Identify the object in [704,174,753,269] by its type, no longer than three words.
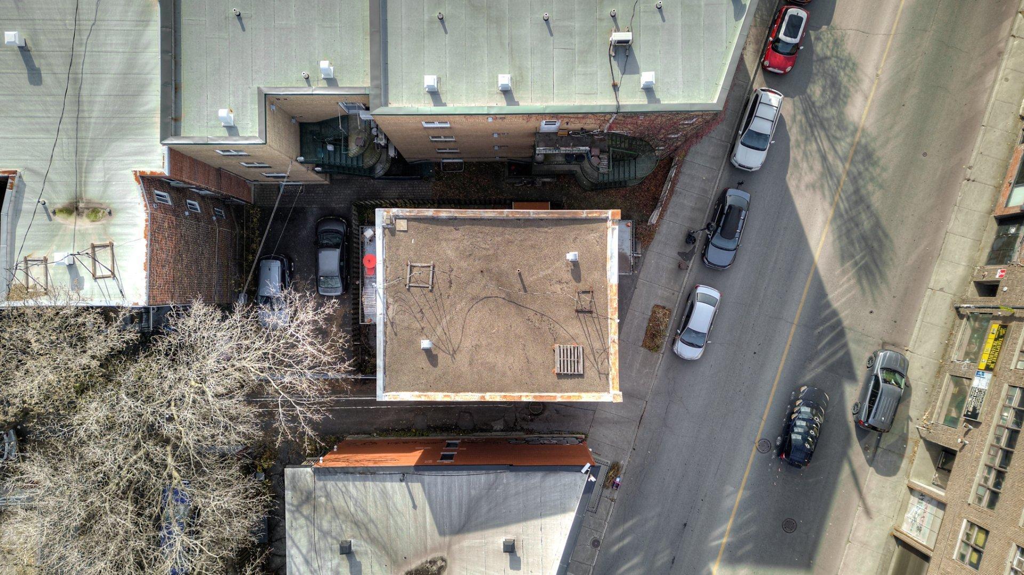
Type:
car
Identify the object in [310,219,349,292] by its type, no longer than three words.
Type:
car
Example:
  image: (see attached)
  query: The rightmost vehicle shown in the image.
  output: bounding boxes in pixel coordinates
[851,349,909,430]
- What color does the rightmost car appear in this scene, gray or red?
gray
